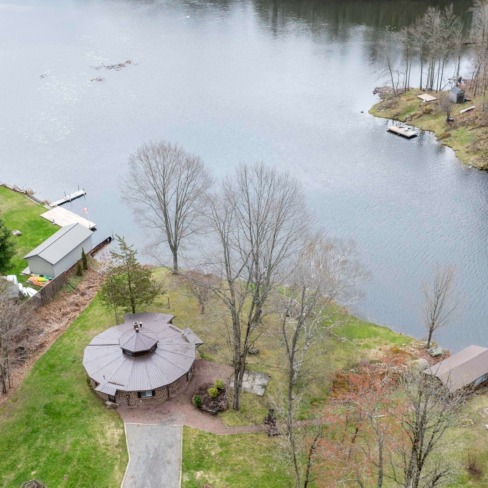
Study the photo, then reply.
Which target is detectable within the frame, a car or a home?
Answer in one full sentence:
Visible in the photo is a home.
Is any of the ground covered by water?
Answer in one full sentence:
Yes, water shows up in the scene.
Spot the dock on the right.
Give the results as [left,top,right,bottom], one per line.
[387,122,422,140]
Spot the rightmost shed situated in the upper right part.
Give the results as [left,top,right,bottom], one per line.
[443,82,466,104]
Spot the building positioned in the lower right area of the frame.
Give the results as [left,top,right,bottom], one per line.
[422,345,488,406]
